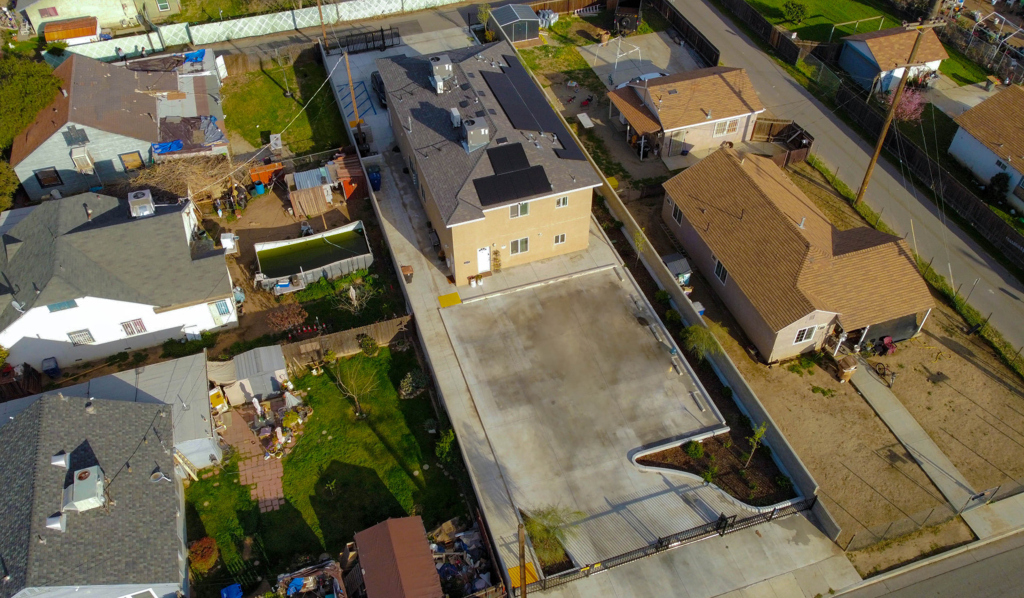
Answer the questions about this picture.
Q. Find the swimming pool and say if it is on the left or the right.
left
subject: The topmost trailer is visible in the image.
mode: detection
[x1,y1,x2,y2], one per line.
[595,0,638,36]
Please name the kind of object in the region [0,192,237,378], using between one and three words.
house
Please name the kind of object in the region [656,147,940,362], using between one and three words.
house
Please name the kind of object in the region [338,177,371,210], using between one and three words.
shed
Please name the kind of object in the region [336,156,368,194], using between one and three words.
shed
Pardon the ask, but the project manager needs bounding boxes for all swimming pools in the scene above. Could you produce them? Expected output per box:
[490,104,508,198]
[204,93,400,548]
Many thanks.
[254,220,376,294]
